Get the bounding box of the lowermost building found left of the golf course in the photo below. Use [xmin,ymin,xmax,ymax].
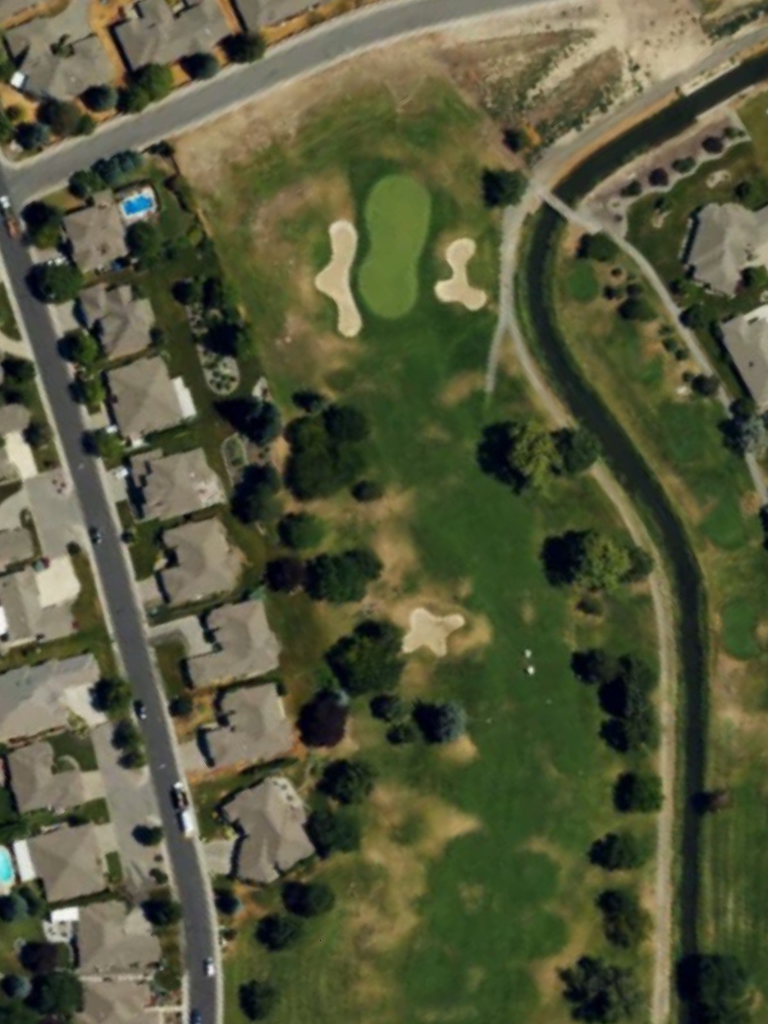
[78,979,152,1024]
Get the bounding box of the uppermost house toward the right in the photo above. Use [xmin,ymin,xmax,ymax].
[685,200,768,300]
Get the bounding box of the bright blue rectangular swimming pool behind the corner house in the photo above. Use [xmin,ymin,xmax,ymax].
[119,190,158,220]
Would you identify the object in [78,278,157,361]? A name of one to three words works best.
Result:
house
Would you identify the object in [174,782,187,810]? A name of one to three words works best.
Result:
vehicle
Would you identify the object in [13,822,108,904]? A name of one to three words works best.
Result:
house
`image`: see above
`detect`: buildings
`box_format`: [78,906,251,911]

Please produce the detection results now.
[78,278,157,361]
[78,979,152,1024]
[185,602,280,687]
[199,684,292,767]
[722,296,768,414]
[244,0,328,28]
[156,518,244,602]
[0,566,80,650]
[0,494,36,565]
[221,781,316,885]
[50,902,162,976]
[0,649,102,741]
[0,26,119,101]
[685,200,768,300]
[13,822,108,904]
[64,185,128,273]
[0,398,31,474]
[117,0,231,71]
[129,446,223,521]
[105,357,193,442]
[1,743,86,815]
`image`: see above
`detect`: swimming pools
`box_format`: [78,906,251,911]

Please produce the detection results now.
[119,190,158,220]
[0,840,18,893]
